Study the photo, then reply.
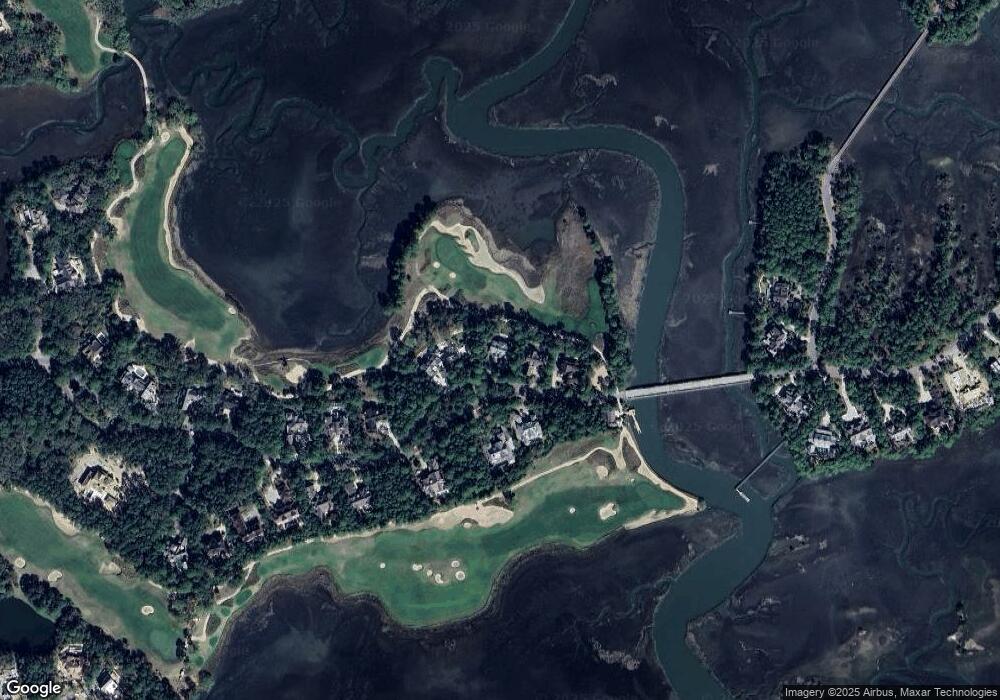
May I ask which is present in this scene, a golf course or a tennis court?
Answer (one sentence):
This aerial view contains a golf course.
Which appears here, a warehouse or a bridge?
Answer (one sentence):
Visible in the photo is a bridge.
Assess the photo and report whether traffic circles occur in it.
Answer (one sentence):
No, the scene contains no traffic circle.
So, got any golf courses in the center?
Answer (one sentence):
Yes, I can see a golf course in the center.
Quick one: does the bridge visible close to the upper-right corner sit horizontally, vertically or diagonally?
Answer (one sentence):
The bridge visible close to the upper-right corner is oriented diagonally.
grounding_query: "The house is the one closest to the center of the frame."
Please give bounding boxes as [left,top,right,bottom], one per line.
[486,334,509,364]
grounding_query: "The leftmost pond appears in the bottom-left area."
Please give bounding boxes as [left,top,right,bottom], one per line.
[0,596,57,656]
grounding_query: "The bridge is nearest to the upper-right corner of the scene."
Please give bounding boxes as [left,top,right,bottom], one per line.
[830,29,931,168]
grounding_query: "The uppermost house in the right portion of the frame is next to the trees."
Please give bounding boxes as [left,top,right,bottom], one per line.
[768,281,801,311]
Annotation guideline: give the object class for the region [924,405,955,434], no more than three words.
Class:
house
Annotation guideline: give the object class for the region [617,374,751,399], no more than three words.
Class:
bridge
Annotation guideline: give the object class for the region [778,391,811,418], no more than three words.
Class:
house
